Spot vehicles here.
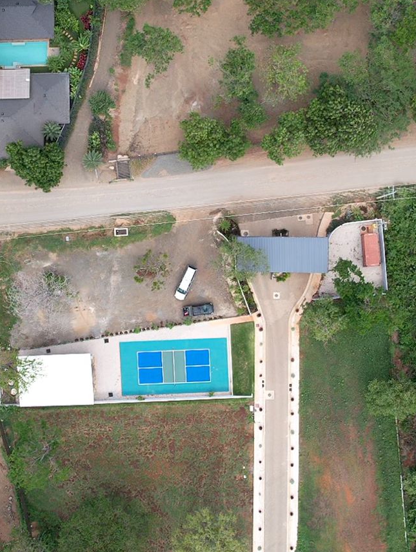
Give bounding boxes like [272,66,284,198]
[182,304,214,317]
[176,266,196,300]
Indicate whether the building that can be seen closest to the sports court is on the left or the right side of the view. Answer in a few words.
left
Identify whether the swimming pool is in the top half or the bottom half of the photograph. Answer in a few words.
top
